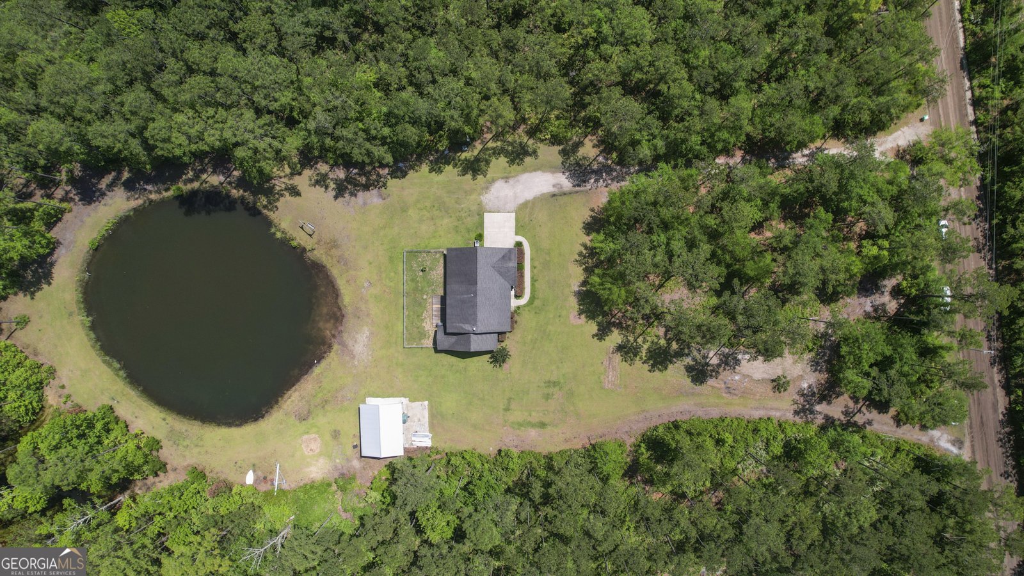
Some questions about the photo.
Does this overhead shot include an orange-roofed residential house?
No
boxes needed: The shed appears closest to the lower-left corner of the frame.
[360,403,404,457]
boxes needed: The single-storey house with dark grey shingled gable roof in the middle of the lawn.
[437,246,517,351]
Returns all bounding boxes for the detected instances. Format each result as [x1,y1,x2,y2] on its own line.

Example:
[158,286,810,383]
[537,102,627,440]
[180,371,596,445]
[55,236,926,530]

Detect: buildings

[437,246,517,351]
[360,403,404,457]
